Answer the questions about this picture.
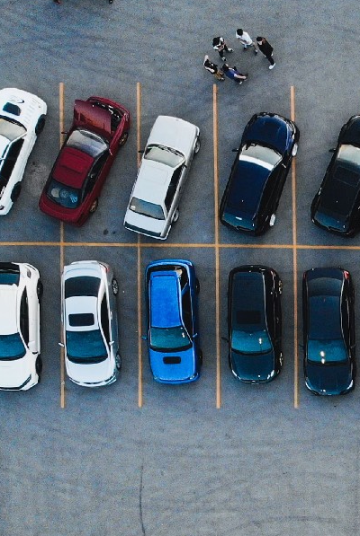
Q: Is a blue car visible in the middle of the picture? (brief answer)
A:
Yes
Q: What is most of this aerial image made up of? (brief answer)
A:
paved ground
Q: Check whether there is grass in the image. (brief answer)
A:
No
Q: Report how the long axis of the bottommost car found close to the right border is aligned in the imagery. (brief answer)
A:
from top to bottom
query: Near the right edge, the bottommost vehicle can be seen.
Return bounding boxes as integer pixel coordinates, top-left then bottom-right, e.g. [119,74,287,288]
[296,266,359,397]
